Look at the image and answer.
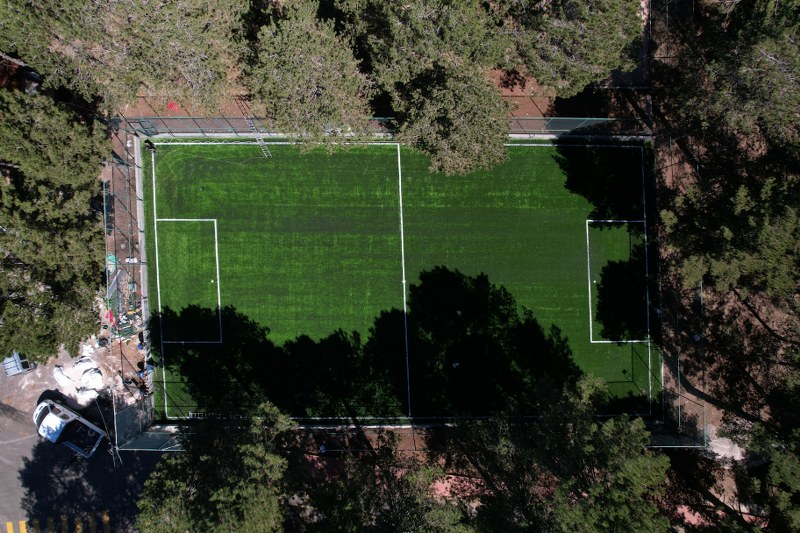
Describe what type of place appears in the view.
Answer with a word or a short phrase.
sports ground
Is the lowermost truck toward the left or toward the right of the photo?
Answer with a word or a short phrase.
left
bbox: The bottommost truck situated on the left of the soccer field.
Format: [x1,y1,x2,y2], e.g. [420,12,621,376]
[33,394,112,458]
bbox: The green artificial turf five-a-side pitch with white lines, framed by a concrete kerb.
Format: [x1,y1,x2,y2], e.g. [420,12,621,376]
[134,133,667,427]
